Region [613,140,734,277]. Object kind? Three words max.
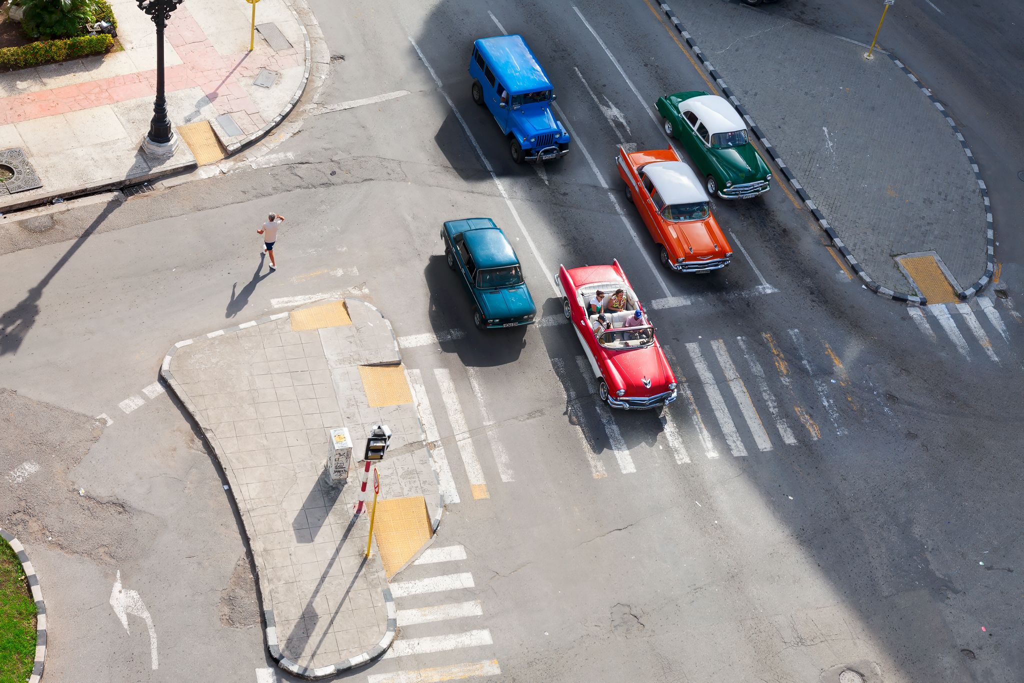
car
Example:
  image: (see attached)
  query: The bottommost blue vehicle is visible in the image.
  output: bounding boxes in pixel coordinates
[437,219,540,332]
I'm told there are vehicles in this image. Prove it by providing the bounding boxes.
[613,140,734,277]
[556,256,681,414]
[657,96,774,201]
[437,219,540,332]
[470,36,575,163]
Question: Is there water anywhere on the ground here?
No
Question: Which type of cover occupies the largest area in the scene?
paved ground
